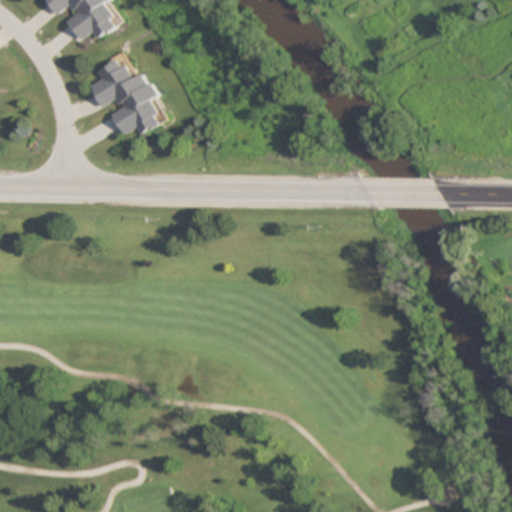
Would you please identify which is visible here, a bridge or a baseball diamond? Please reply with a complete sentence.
This aerial view contains a bridge.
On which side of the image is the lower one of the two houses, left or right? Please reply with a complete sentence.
The lower one of the two houses is on the left side of the image.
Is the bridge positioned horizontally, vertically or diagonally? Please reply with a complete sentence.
I'd say the bridge is aligned horizontally in the picture.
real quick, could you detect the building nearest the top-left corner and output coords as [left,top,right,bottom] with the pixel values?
[48,0,124,40]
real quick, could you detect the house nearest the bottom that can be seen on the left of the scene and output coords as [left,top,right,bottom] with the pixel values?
[91,52,168,136]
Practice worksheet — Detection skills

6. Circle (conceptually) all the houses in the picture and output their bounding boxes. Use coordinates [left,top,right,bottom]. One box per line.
[48,0,124,40]
[91,52,168,136]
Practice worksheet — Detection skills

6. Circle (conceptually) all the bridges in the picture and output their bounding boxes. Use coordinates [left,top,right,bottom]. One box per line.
[354,170,456,216]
